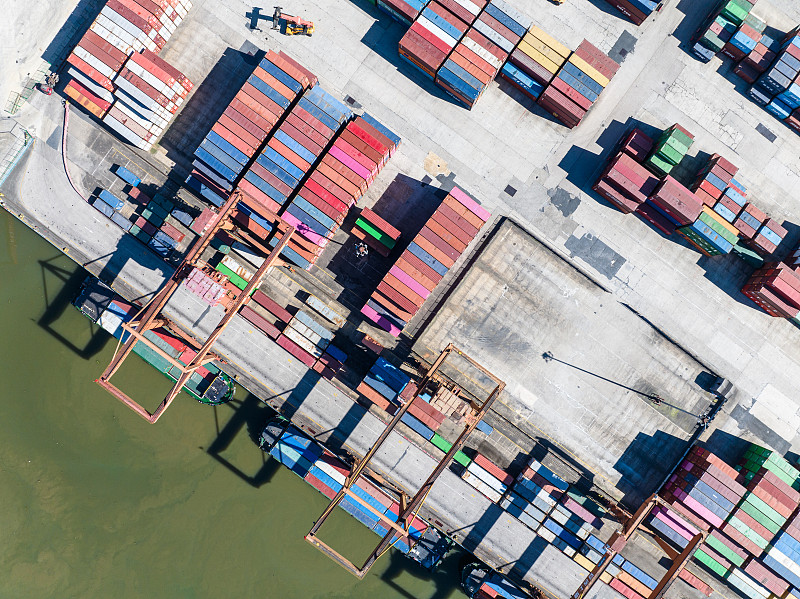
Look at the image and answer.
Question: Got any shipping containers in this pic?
Yes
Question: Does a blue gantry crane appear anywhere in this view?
No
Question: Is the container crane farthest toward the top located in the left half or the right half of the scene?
left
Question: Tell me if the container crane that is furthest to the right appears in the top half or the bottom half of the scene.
bottom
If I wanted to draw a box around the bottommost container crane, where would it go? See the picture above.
[523,487,713,599]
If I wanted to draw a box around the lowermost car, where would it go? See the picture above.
[34,81,51,95]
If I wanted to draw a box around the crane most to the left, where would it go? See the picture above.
[92,184,300,423]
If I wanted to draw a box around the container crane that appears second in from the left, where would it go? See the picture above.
[303,339,508,579]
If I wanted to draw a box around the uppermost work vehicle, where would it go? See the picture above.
[266,0,316,34]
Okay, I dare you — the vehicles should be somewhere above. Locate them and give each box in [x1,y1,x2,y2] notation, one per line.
[34,81,51,95]
[266,0,316,34]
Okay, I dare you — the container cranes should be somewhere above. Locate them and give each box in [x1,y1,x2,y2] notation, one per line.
[303,339,508,579]
[523,487,713,599]
[92,184,300,423]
